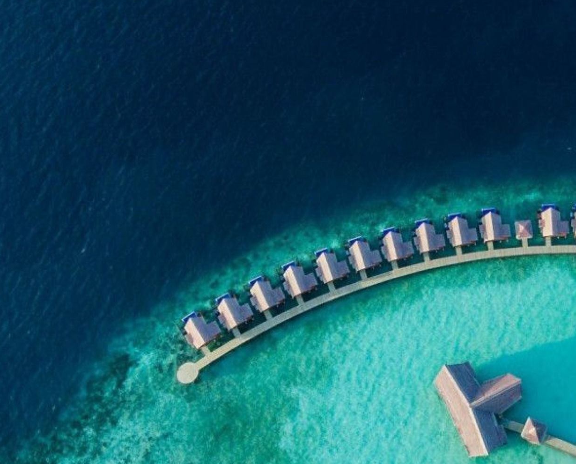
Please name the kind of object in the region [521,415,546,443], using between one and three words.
building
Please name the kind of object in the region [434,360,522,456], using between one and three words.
building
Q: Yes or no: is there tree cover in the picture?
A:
No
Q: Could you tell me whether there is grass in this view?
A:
No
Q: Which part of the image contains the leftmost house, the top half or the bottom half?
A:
bottom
